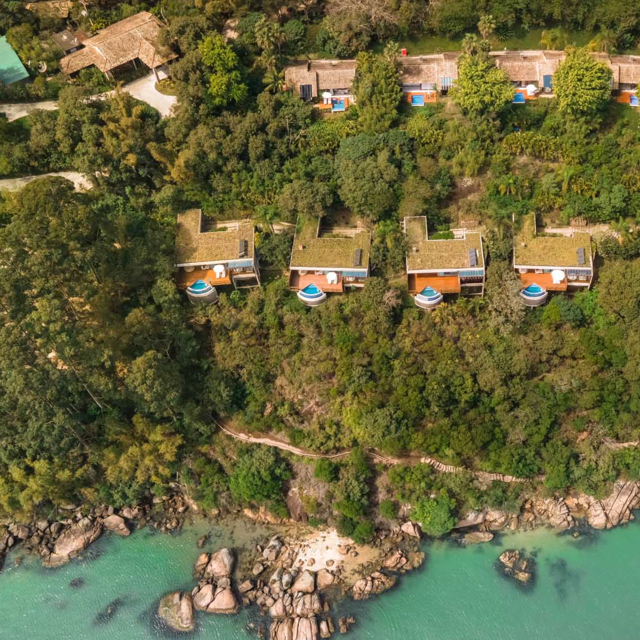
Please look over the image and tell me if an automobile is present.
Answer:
No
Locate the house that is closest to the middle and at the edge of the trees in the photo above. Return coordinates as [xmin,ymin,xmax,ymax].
[290,216,373,310]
